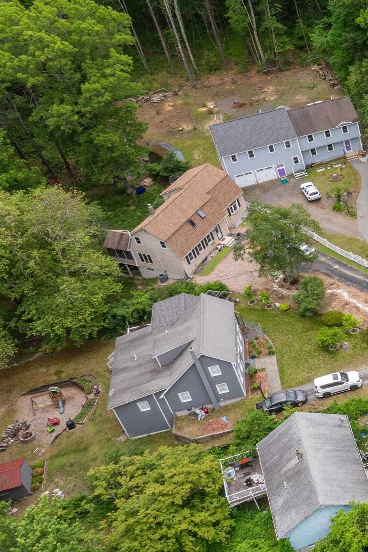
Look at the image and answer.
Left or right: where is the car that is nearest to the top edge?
right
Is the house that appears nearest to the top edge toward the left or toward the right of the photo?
right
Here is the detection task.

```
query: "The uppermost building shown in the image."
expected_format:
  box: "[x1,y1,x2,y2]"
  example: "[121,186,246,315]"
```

[209,92,364,187]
